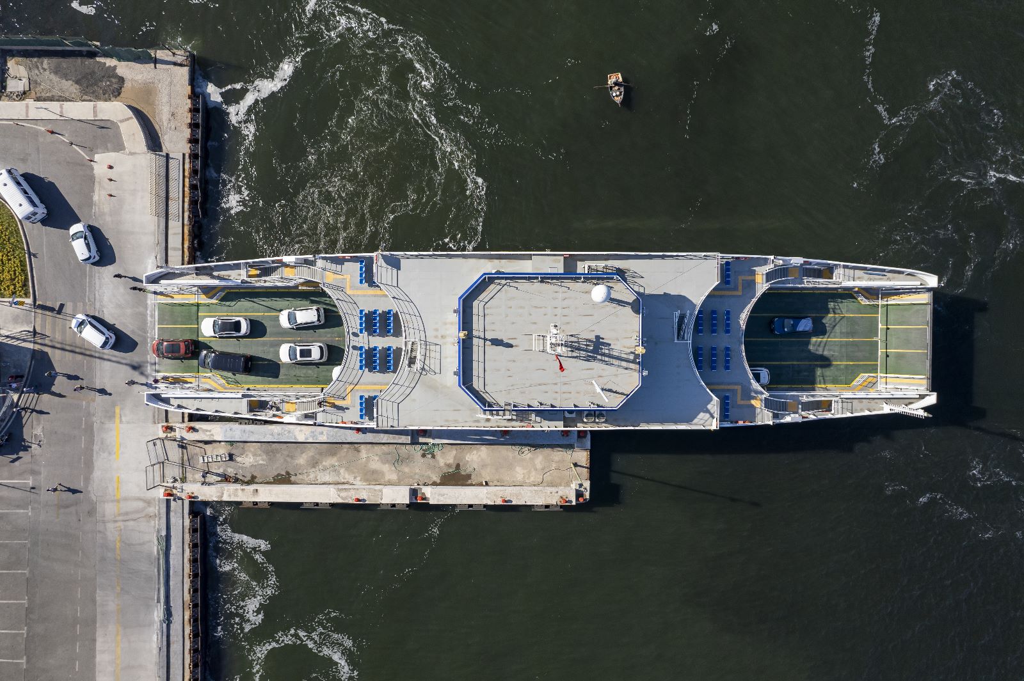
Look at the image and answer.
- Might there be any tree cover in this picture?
No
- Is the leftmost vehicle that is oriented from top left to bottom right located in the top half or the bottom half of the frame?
top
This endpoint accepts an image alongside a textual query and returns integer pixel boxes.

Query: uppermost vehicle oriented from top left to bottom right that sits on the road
[0,164,48,224]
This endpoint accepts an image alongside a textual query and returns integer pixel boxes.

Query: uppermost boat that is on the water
[592,70,632,106]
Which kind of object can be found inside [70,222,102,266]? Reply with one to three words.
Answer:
car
